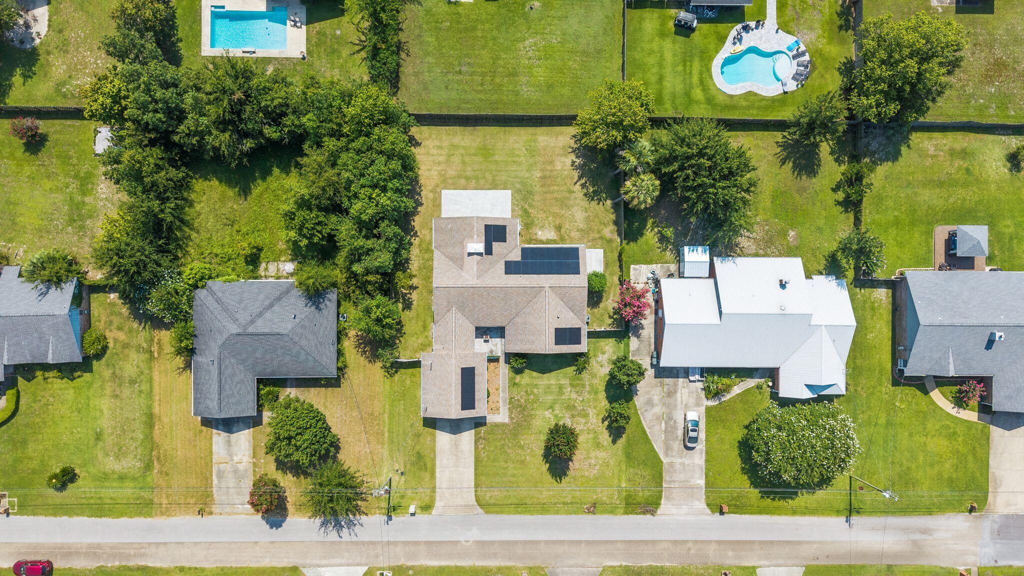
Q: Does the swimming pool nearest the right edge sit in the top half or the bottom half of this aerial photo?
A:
top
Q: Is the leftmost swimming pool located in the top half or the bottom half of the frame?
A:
top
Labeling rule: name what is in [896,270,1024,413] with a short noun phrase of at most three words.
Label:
house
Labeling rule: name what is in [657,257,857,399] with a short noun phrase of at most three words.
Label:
house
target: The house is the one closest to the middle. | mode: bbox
[421,216,588,419]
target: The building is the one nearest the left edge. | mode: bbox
[0,265,92,382]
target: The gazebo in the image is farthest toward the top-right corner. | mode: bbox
[944,224,989,257]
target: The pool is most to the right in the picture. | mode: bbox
[712,0,810,96]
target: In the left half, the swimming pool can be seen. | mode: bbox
[202,0,306,57]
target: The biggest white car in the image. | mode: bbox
[685,411,703,450]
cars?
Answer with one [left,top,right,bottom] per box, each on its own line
[10,561,50,576]
[685,411,703,450]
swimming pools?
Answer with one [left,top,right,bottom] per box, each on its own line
[202,0,306,57]
[712,0,810,96]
